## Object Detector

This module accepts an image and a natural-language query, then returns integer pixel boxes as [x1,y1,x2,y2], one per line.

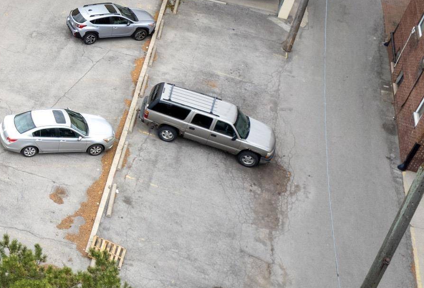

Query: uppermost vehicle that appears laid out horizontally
[66,1,155,44]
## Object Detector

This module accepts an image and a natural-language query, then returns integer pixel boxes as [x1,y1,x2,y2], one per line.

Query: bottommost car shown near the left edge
[1,108,118,157]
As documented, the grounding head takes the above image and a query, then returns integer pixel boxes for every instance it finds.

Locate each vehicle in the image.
[1,108,118,157]
[66,1,155,44]
[147,81,285,169]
